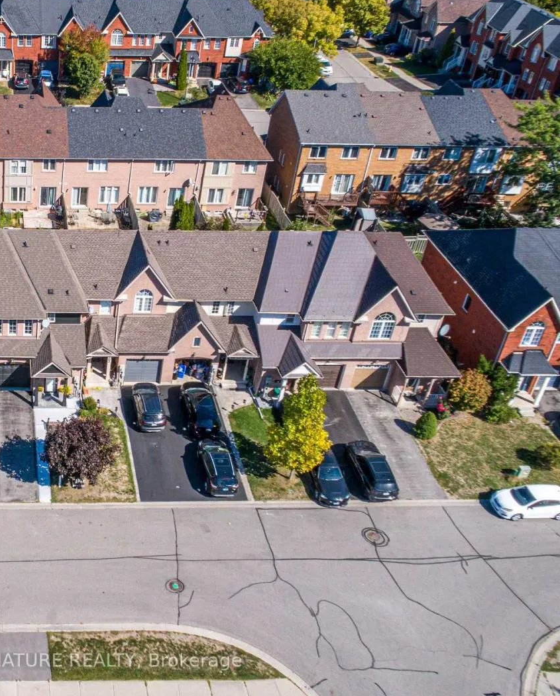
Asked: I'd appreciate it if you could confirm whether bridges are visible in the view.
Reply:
No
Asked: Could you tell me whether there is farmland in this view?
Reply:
No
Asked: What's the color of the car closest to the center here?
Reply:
black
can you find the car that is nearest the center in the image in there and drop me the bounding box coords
[183,388,224,438]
